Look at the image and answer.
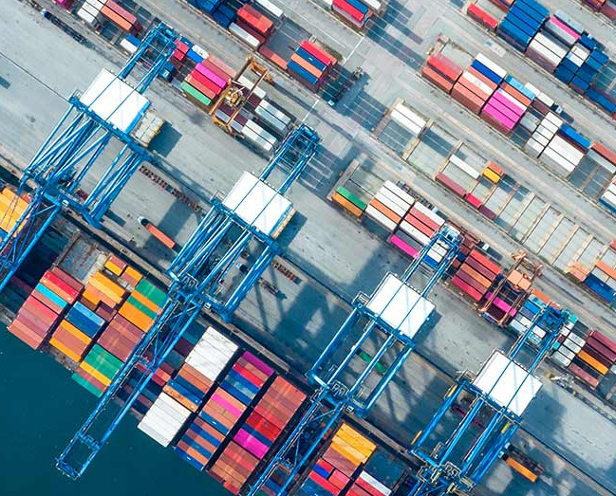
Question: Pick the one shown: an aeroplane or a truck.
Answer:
truck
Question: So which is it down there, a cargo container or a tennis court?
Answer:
cargo container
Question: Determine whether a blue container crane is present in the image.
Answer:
Yes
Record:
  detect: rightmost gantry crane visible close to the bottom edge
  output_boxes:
[403,298,570,496]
